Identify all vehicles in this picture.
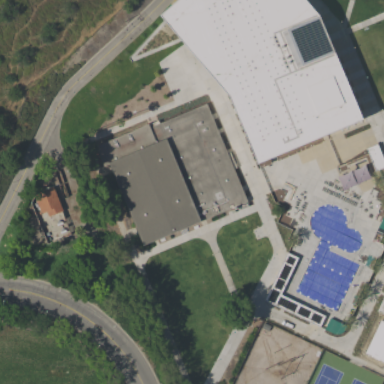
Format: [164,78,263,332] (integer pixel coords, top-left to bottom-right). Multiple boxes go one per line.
[284,321,295,328]
[46,231,52,240]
